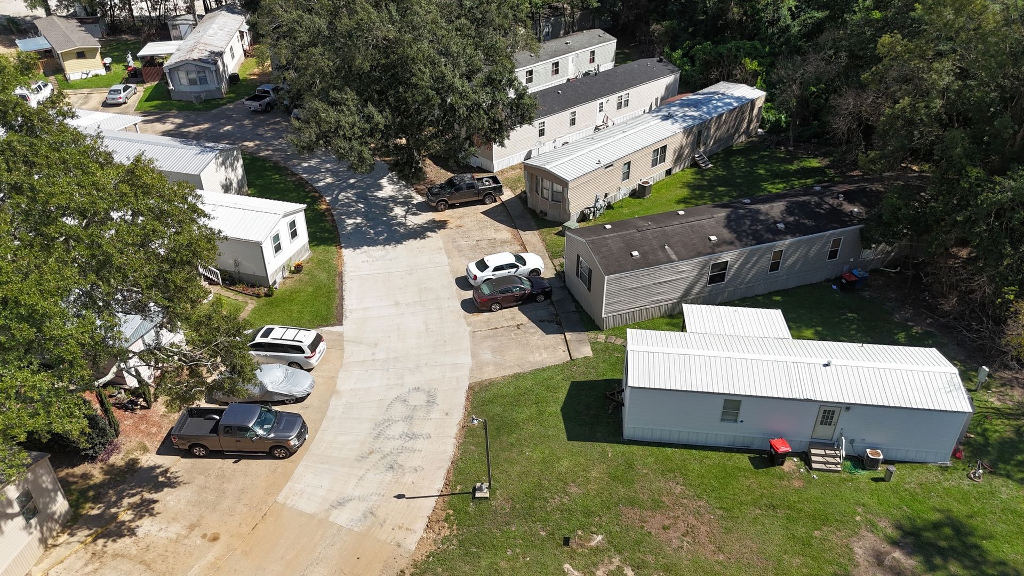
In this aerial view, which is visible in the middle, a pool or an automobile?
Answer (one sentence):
There is an automobile in the middle.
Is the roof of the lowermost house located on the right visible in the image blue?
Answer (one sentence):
No, the roof of the lowermost house located on the right is white.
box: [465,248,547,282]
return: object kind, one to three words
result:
car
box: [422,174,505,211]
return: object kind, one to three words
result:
truck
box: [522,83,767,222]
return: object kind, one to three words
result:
house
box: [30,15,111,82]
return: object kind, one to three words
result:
house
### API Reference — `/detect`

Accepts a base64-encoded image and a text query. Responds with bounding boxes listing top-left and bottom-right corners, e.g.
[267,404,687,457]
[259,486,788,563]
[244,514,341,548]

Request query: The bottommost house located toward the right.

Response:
[599,326,977,463]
